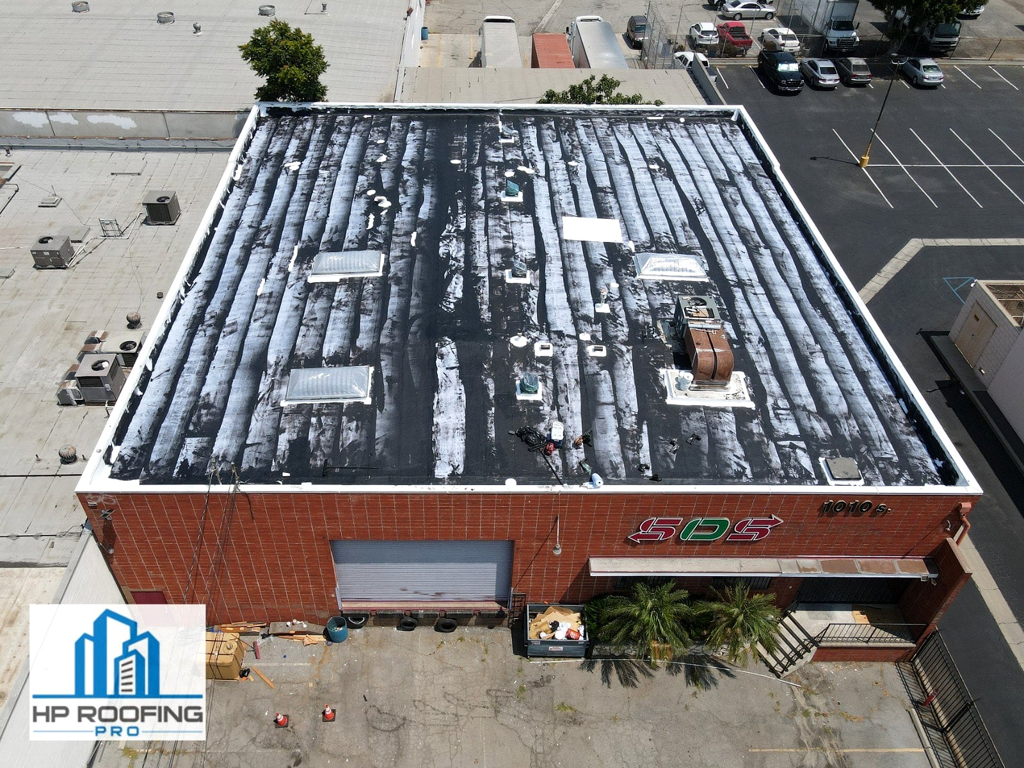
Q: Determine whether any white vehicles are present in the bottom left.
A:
No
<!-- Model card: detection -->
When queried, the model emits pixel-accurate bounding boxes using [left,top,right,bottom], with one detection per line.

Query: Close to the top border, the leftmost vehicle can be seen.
[478,13,524,69]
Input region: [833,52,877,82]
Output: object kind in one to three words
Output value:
car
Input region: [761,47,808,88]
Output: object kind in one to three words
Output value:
truck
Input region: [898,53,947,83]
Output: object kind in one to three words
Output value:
car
